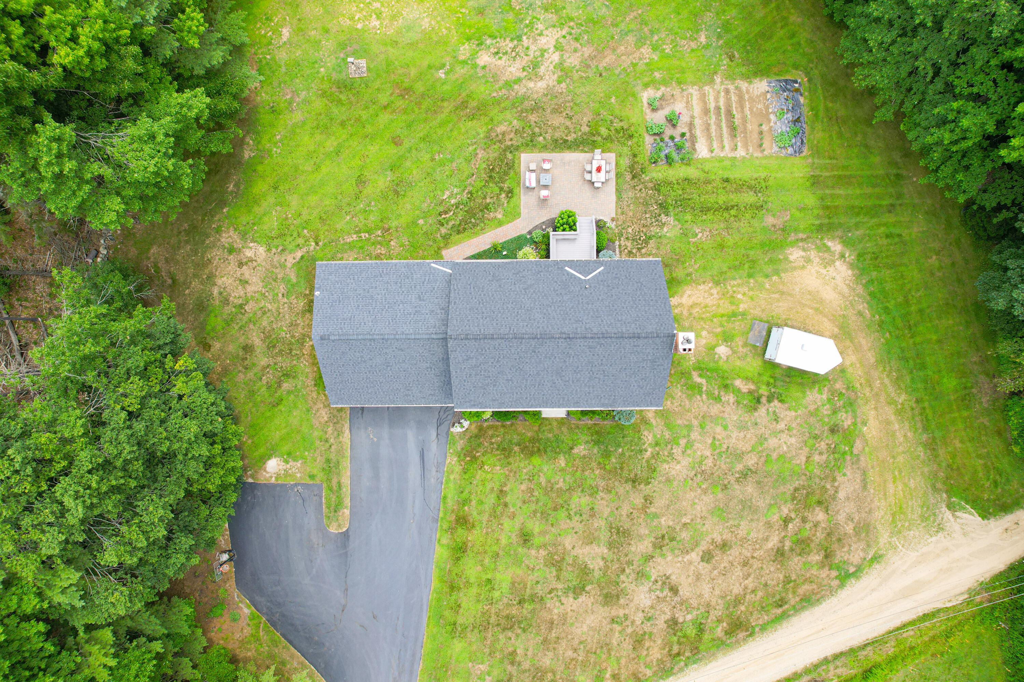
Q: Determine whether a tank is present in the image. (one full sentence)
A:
No, the photo shows no tank.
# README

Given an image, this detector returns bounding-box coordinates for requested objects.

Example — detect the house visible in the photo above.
[311,257,694,411]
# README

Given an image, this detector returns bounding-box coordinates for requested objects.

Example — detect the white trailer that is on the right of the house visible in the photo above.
[763,326,844,375]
